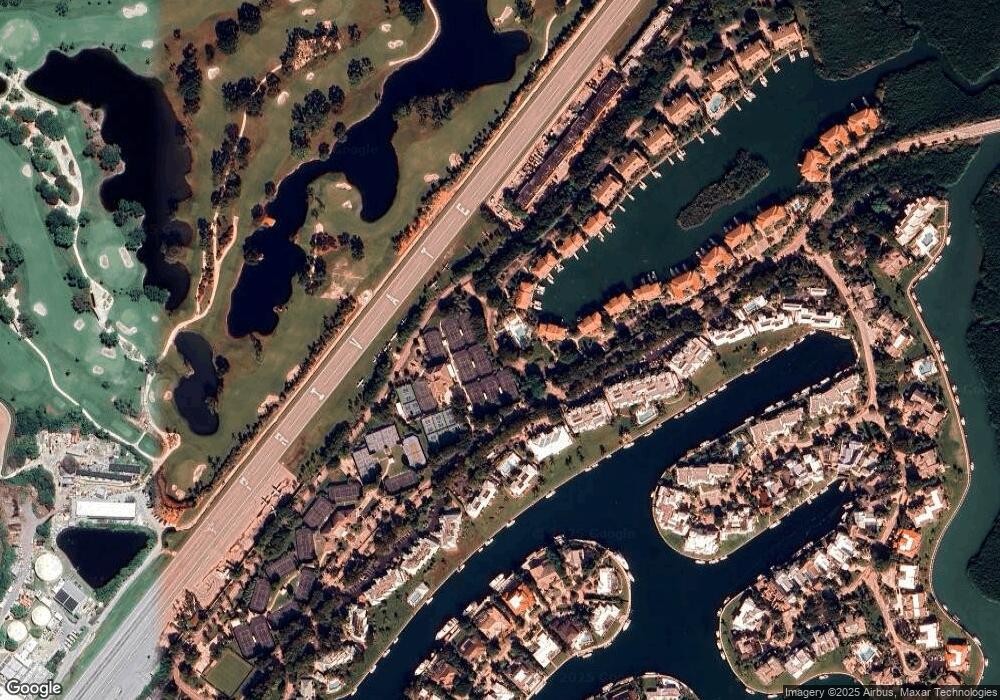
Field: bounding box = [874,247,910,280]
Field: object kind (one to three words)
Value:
house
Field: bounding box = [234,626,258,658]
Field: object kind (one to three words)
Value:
tennis court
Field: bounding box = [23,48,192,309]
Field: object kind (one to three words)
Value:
pond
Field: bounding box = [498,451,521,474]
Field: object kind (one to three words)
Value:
swimming pool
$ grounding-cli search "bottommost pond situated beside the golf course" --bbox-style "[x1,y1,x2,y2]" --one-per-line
[57,527,150,589]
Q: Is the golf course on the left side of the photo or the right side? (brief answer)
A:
left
